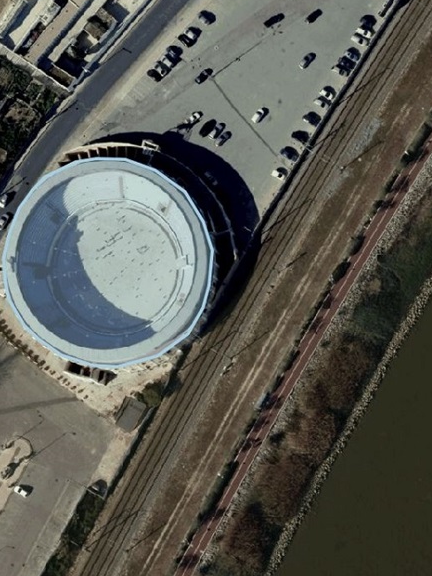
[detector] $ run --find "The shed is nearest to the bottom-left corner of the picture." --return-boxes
[113,395,148,433]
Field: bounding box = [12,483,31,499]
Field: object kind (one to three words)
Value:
car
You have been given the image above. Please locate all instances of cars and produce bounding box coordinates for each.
[195,68,213,84]
[215,131,232,148]
[145,66,162,80]
[0,212,10,231]
[311,95,330,109]
[181,27,198,42]
[177,34,193,48]
[159,55,177,70]
[331,63,351,77]
[152,61,170,77]
[299,52,316,70]
[336,54,355,70]
[305,8,323,24]
[356,15,376,30]
[280,146,299,161]
[199,119,216,138]
[264,13,284,28]
[164,45,183,60]
[197,11,214,25]
[12,483,31,499]
[353,25,373,40]
[291,129,310,144]
[350,32,370,47]
[318,87,335,101]
[209,123,224,140]
[301,111,320,127]
[270,167,288,181]
[0,191,9,209]
[250,106,268,124]
[344,48,362,63]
